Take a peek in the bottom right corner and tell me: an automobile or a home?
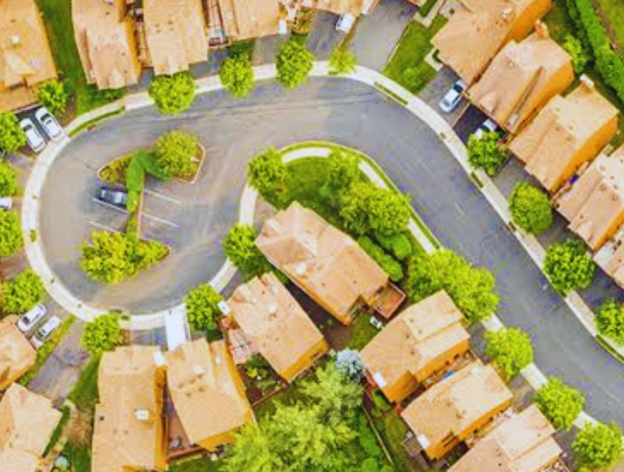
home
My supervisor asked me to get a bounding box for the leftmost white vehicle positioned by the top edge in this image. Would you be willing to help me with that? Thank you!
[334,19,351,38]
